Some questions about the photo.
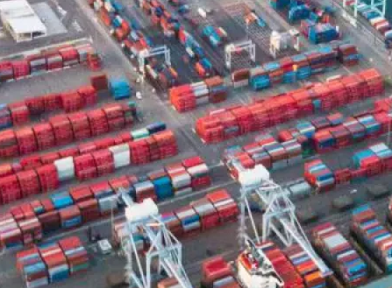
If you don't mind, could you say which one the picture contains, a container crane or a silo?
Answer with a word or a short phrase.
container crane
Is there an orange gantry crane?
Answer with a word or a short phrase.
No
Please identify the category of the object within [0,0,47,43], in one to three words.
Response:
shed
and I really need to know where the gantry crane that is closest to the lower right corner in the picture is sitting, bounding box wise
[227,167,334,282]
